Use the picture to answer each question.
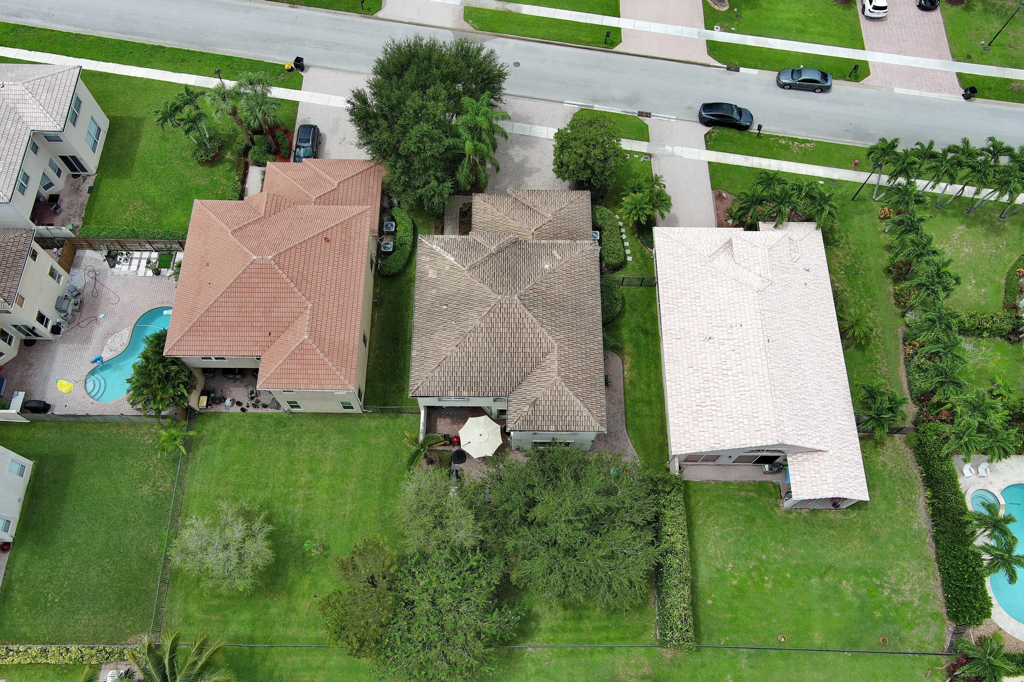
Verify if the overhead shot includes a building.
Yes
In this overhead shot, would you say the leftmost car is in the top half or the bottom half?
top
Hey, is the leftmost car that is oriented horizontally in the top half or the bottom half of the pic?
top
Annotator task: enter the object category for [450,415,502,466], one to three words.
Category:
umbrella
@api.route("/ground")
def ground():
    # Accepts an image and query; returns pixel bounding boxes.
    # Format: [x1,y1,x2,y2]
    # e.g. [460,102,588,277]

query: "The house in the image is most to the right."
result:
[651,220,871,508]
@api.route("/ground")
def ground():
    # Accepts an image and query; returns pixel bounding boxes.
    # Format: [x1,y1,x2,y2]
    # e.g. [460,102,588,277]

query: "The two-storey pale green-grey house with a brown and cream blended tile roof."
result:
[408,188,609,452]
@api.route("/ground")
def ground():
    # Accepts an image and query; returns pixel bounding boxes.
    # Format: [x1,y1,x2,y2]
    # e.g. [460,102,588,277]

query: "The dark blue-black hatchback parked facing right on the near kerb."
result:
[700,102,755,130]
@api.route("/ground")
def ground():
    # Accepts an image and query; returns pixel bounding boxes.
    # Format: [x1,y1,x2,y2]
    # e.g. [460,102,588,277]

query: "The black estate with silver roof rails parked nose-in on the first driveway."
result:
[292,117,324,162]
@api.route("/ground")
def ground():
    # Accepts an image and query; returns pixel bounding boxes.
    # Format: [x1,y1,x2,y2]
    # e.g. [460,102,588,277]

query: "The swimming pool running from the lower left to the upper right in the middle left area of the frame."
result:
[72,303,172,406]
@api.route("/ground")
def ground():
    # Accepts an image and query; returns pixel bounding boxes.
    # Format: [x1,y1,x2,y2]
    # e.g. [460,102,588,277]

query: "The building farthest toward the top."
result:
[0,62,110,240]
